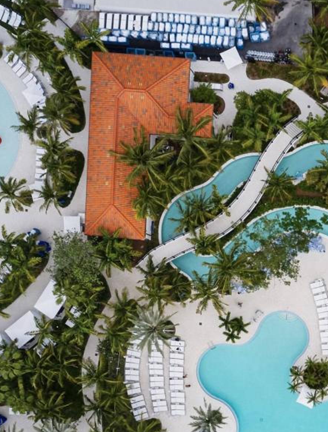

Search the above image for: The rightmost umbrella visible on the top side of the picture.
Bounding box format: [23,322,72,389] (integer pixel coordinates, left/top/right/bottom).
[218,45,245,72]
